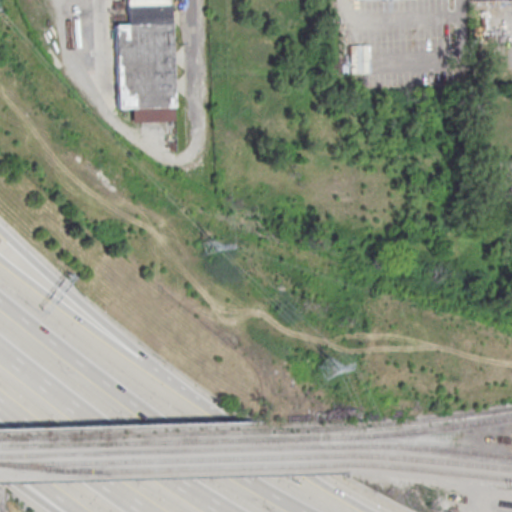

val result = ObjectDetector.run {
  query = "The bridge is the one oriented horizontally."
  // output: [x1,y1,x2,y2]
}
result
[0,410,356,485]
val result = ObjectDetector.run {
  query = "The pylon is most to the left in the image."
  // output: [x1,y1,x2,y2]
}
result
[202,237,238,258]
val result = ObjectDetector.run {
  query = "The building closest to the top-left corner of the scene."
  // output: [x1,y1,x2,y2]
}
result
[116,0,178,122]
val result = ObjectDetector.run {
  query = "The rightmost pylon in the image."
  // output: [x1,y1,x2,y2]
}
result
[322,358,362,380]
